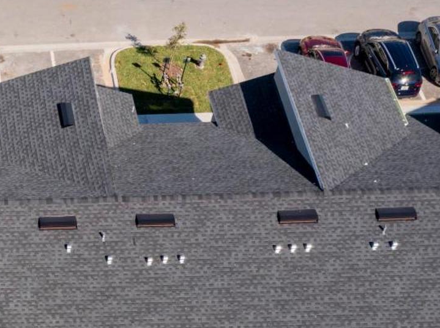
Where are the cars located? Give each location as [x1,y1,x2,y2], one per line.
[301,39,365,74]
[354,30,428,103]
[416,19,440,80]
